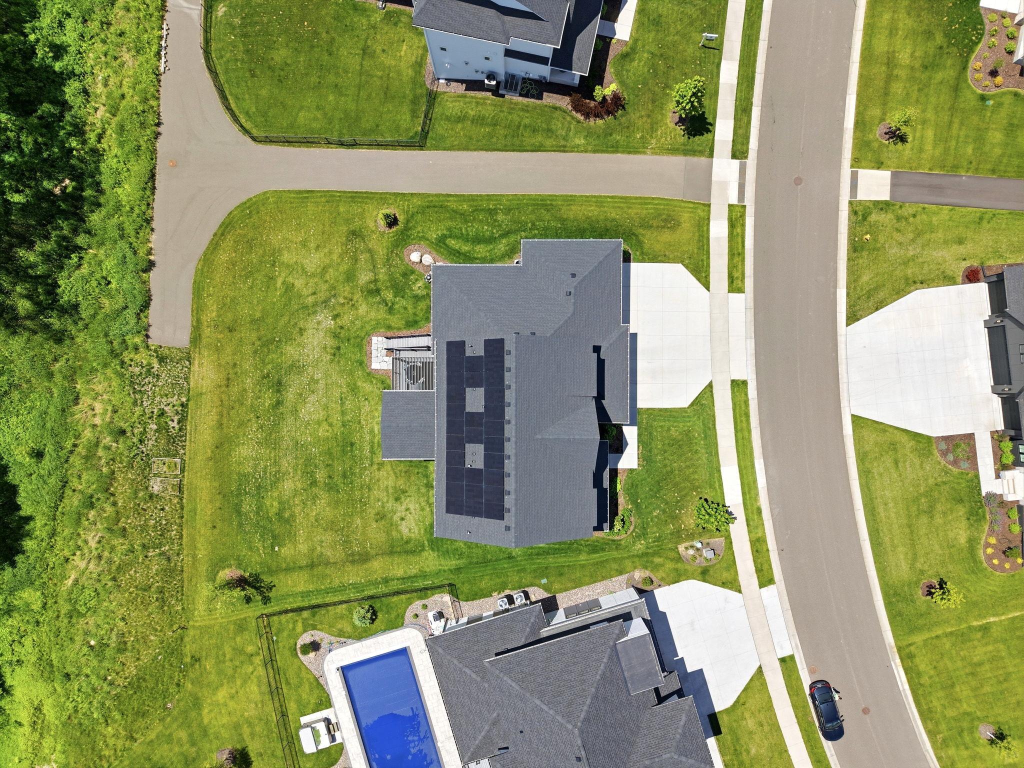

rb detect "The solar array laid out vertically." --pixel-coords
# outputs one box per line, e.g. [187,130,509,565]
[445,339,504,520]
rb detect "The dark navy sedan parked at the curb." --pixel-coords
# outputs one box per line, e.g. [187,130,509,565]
[808,680,845,742]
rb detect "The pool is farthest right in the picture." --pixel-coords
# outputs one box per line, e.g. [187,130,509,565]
[337,642,445,768]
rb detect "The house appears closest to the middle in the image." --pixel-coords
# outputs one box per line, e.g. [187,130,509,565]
[380,238,630,547]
